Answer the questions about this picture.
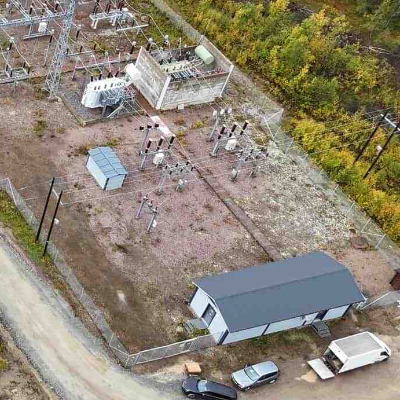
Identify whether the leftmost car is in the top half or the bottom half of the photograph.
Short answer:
bottom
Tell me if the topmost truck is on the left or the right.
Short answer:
right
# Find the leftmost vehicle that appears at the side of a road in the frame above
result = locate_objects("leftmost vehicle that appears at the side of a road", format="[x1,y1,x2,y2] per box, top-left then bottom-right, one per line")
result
[183,376,242,400]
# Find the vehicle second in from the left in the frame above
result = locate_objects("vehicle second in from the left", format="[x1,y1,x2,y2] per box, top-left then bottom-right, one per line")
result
[231,364,286,392]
